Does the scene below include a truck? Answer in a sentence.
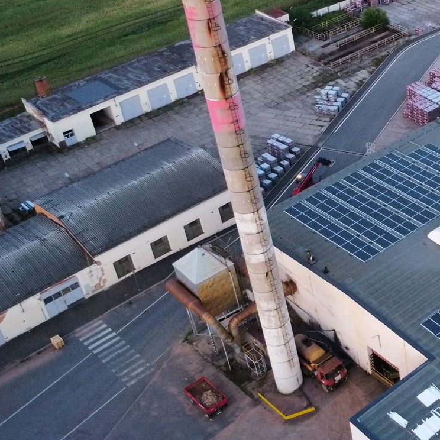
Yes, you can see a truck in this photo.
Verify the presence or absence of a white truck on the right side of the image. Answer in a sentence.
No, no white truck appears on the right side of the image.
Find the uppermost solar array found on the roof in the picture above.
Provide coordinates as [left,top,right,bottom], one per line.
[282,143,440,263]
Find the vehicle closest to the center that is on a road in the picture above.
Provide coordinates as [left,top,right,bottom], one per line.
[292,160,337,198]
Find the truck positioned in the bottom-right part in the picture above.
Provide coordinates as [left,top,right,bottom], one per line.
[291,335,350,395]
